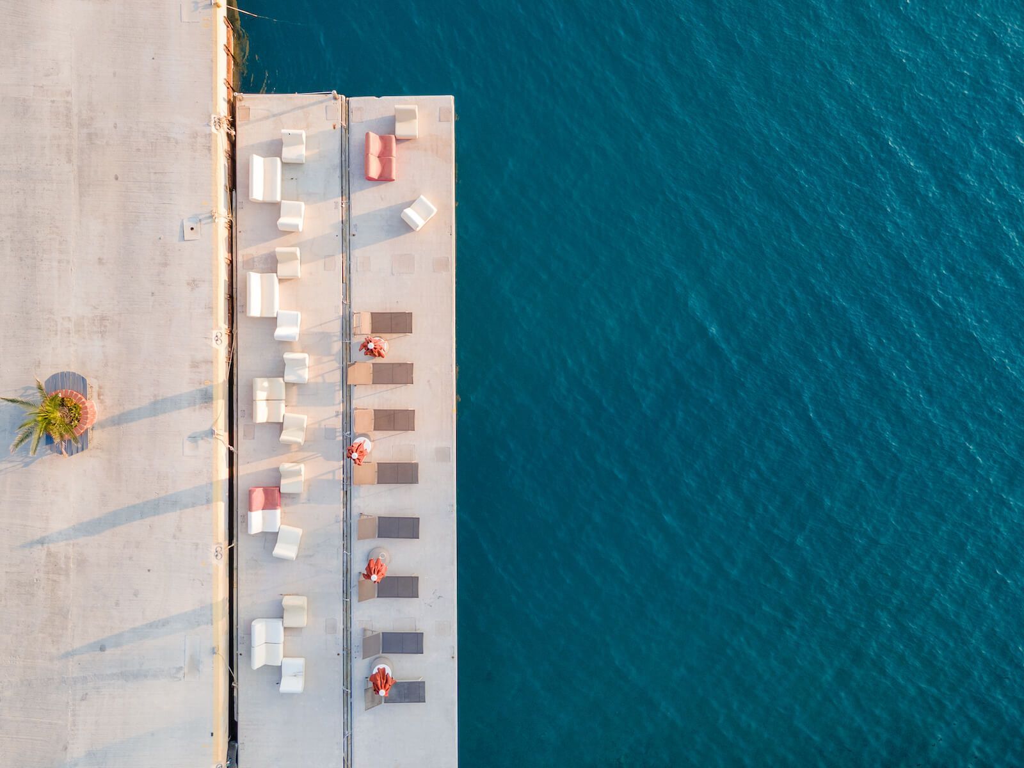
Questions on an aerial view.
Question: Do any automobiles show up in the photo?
No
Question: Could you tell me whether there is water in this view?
Yes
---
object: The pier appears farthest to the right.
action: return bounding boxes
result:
[350,96,458,768]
